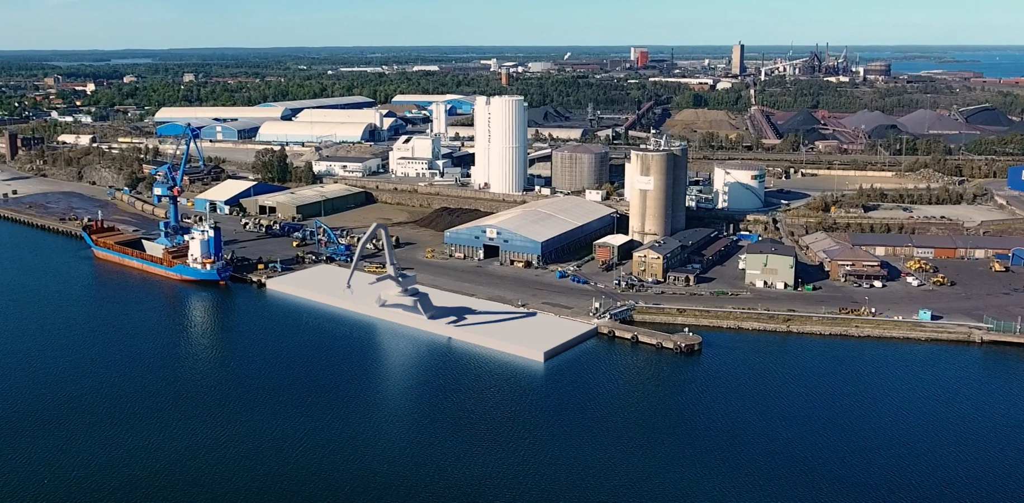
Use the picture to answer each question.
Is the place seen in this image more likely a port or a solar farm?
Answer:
port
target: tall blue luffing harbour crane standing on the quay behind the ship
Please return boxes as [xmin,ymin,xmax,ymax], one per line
[146,121,205,243]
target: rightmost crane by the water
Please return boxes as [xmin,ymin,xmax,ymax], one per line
[344,221,443,319]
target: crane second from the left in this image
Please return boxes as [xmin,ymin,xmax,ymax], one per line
[314,219,354,263]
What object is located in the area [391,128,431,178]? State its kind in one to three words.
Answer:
building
